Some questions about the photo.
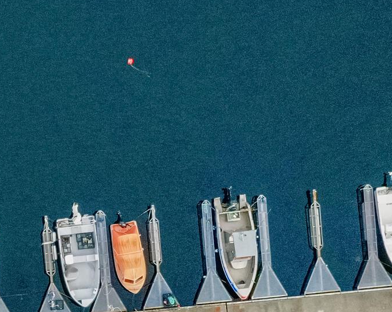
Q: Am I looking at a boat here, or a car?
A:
boat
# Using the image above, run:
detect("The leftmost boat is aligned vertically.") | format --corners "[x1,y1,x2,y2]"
[58,200,101,307]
